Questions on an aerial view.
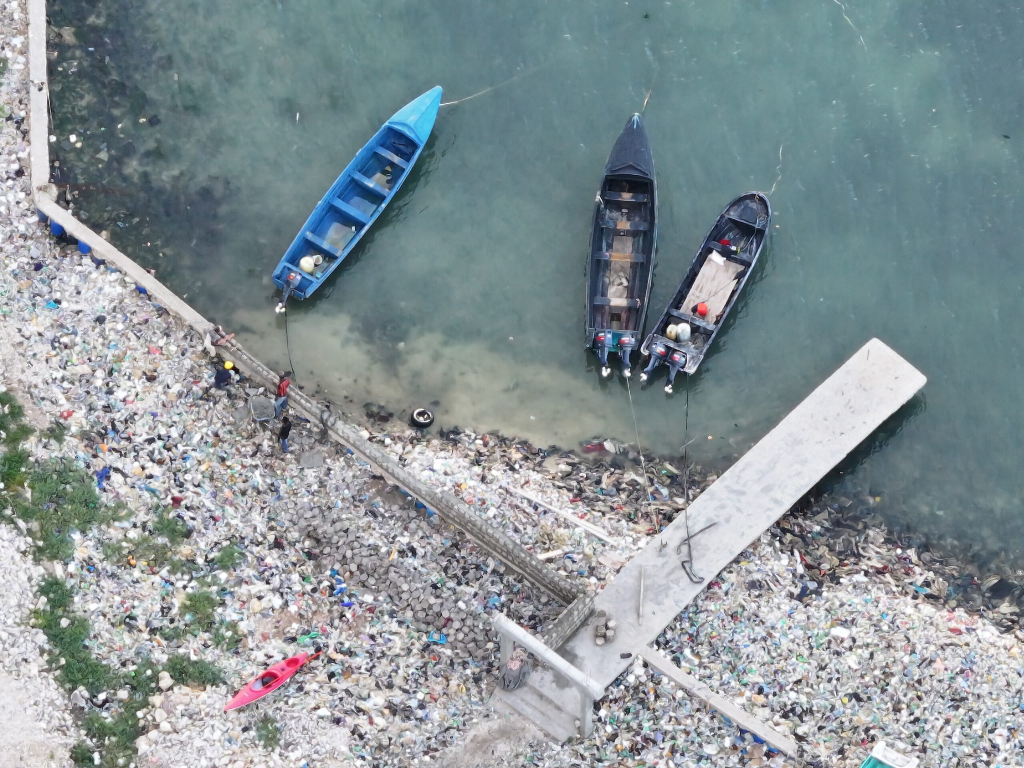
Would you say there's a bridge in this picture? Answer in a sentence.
No, I can see no bridge in this picture.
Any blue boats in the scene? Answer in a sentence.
Yes, there's a blue boat here.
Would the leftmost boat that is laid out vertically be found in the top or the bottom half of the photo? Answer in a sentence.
The leftmost boat that is laid out vertically is in the top half of the image.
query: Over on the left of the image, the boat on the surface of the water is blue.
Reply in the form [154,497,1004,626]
[270,84,446,323]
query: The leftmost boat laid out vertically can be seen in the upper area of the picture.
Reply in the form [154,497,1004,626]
[586,112,656,384]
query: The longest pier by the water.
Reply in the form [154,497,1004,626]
[522,340,926,721]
